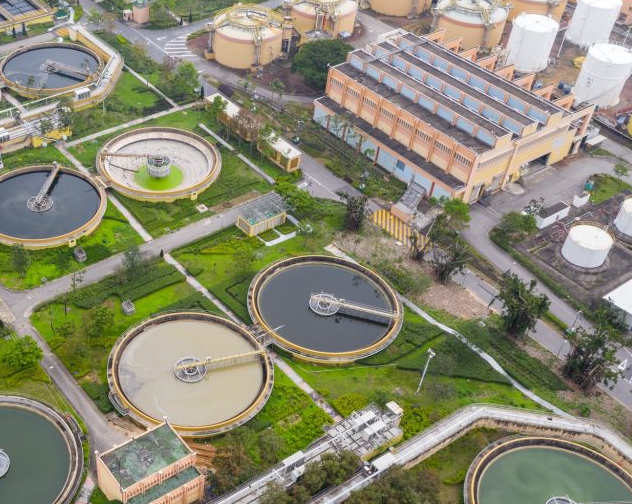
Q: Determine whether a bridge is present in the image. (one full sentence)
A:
Yes, there's a bridge here.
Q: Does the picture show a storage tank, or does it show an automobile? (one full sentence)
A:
There is a storage tank in the scene.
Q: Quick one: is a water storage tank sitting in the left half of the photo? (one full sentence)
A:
Yes, there is a water storage tank in the left half of the photo.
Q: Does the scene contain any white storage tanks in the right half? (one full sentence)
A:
Yes, the scene does show a white storage tank in the right half.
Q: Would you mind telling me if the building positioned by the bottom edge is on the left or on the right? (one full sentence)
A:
The building positioned by the bottom edge is on the left side of the image.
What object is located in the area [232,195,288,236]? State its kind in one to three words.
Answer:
shed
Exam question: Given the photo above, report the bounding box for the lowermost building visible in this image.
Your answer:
[95,413,205,504]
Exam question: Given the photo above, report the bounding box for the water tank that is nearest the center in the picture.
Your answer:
[248,253,404,364]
